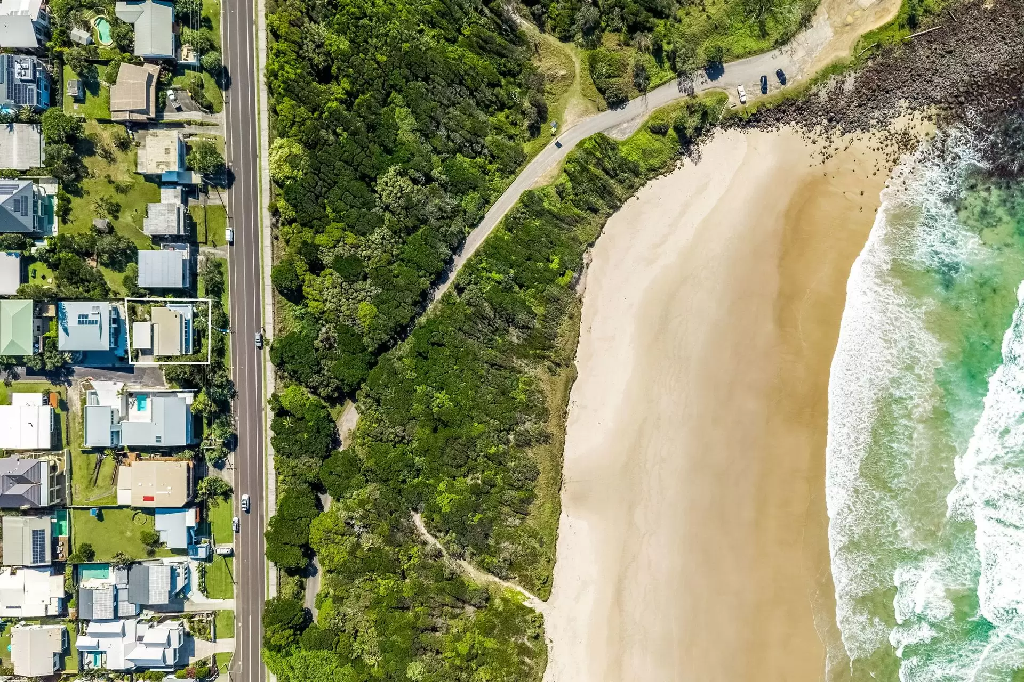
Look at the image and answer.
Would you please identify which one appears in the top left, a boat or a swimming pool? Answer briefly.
swimming pool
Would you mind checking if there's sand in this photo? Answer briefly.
Yes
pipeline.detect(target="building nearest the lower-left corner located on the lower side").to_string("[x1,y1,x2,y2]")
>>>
[11,623,72,677]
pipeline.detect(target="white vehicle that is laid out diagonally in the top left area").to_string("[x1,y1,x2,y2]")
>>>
[168,91,180,108]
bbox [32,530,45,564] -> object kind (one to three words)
solar panel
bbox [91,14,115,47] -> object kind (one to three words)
swimming pool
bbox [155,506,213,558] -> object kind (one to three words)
house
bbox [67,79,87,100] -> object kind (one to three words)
shed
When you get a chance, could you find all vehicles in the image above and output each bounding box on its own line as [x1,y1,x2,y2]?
[226,227,233,242]
[232,517,239,532]
[214,547,233,554]
[760,75,768,93]
[255,332,262,347]
[241,495,249,510]
[168,91,180,108]
[776,68,785,84]
[737,85,746,102]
